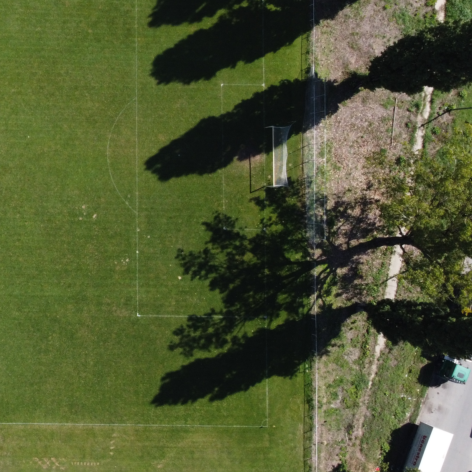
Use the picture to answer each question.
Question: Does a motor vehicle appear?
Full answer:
Yes, the image includes a motor vehicle.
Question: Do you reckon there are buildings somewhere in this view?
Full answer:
No, I can't see a single building in this photo.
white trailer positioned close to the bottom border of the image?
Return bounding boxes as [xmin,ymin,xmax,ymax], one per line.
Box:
[401,420,452,472]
